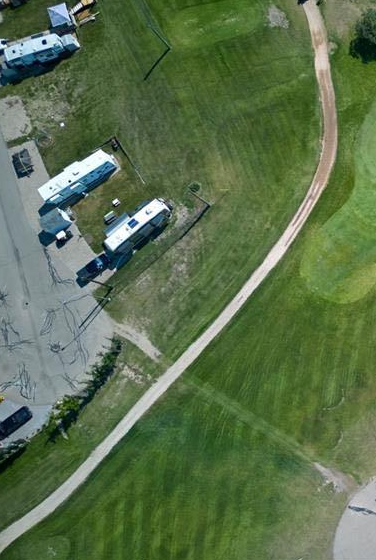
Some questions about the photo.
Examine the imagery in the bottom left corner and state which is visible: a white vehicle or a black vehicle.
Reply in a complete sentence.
Visible in the bottom left corner is a black vehicle.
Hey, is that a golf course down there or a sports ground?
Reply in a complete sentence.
What you see here is a golf course.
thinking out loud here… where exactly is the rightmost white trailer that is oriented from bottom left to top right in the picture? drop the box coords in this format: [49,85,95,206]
[104,198,179,254]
